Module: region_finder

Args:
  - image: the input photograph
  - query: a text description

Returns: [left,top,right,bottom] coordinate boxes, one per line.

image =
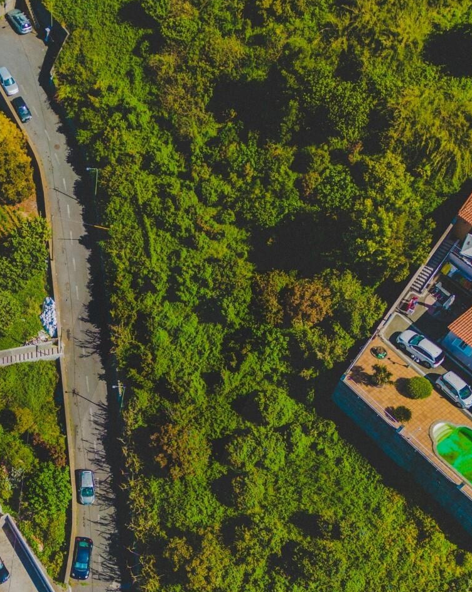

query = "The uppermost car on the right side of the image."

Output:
[394,330,446,370]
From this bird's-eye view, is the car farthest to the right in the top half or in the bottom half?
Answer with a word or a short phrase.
bottom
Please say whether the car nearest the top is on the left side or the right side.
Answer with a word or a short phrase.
left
